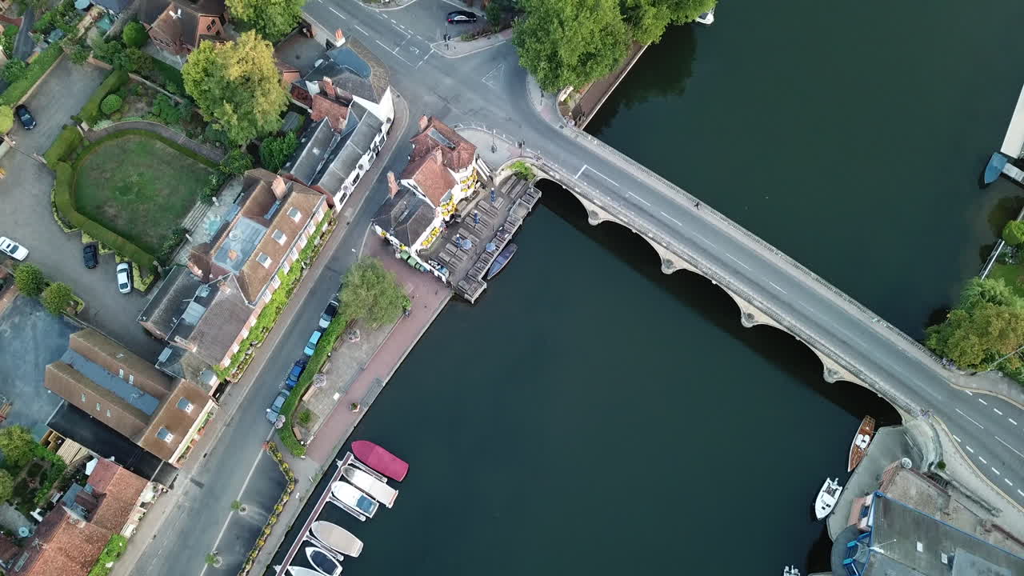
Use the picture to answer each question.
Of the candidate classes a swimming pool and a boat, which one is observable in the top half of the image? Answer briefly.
boat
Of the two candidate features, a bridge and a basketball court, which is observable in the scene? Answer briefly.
bridge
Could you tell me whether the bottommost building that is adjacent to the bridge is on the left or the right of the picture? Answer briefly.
right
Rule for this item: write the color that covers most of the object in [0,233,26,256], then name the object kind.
white car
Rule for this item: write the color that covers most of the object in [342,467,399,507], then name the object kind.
white boat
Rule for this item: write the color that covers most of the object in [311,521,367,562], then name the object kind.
white boat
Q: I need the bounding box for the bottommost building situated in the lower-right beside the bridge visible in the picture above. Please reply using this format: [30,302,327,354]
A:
[814,490,1024,576]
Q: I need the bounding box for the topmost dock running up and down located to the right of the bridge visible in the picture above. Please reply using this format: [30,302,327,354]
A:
[1000,95,1024,160]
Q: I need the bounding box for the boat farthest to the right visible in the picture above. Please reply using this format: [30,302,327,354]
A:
[982,152,1011,186]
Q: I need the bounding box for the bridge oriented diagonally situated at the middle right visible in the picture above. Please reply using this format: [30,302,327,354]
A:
[531,119,958,421]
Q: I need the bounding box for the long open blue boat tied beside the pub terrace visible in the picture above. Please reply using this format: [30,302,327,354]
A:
[488,243,518,280]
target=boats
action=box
[488,243,518,280]
[982,152,1011,186]
[311,521,367,562]
[782,567,800,576]
[815,477,844,520]
[848,415,877,472]
[305,547,344,576]
[353,442,410,482]
[332,481,379,517]
[342,467,399,507]
[693,9,715,27]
